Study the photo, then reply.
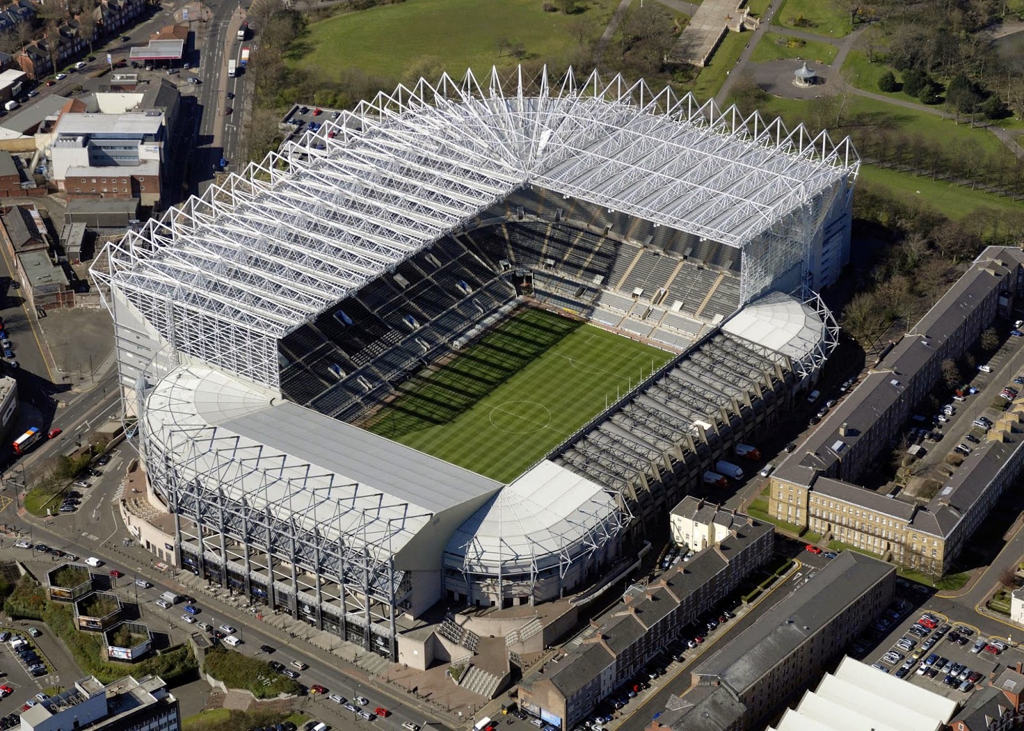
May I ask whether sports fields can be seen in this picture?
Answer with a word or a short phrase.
Yes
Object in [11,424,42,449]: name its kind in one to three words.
bus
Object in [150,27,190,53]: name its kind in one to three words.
building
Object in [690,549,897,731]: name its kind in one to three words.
warehouse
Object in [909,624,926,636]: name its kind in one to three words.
vehicle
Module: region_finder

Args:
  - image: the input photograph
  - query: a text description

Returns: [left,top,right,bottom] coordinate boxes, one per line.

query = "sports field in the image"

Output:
[354,305,680,532]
